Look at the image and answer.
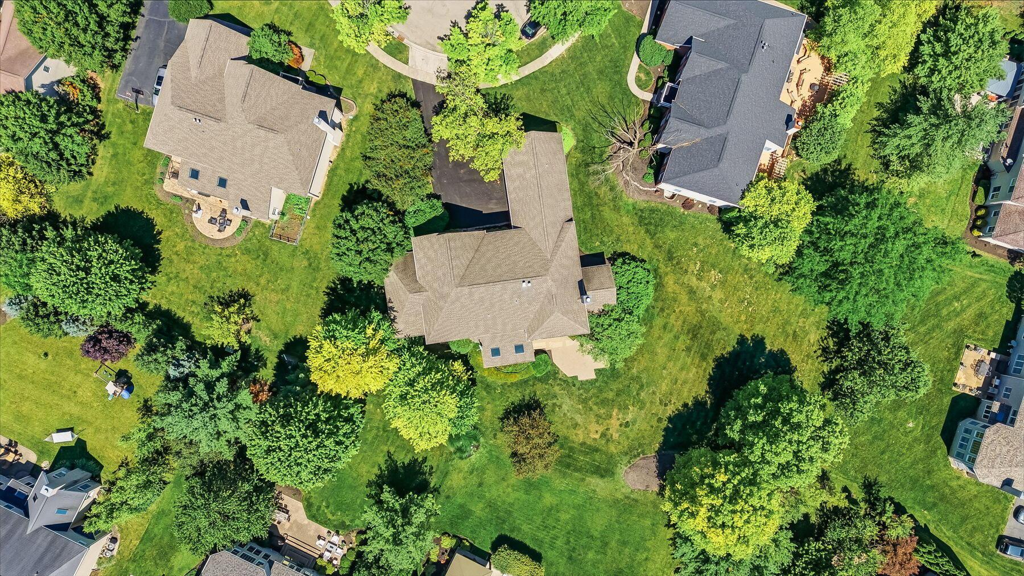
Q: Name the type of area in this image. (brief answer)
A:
residential area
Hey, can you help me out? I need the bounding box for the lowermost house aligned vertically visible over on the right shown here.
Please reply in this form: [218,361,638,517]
[947,321,1024,507]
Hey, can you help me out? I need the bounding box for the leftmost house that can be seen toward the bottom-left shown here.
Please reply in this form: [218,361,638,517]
[0,458,113,576]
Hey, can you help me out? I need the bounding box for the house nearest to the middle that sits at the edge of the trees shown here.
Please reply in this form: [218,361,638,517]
[385,131,617,368]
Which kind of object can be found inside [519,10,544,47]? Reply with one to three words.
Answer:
car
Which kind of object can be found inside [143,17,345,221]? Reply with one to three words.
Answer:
house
